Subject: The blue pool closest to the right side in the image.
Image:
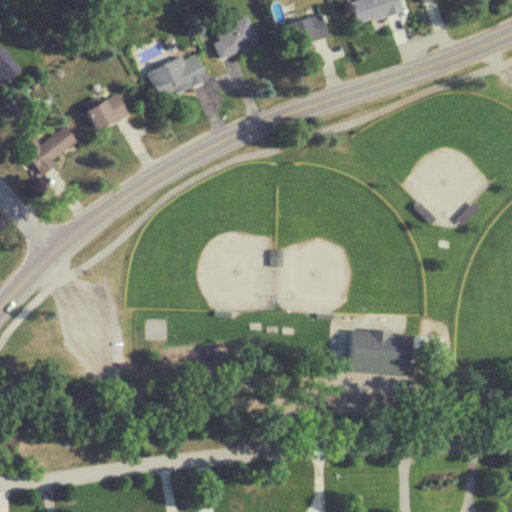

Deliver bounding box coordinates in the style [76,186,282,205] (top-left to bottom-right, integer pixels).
[272,0,284,24]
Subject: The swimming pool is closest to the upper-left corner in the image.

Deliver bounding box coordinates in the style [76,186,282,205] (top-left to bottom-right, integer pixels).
[132,42,168,68]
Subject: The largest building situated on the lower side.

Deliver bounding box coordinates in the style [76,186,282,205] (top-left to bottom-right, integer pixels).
[351,327,405,374]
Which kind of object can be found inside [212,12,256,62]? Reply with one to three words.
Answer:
house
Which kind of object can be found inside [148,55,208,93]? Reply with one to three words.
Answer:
house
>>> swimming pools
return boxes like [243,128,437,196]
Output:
[132,42,168,68]
[272,0,284,24]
